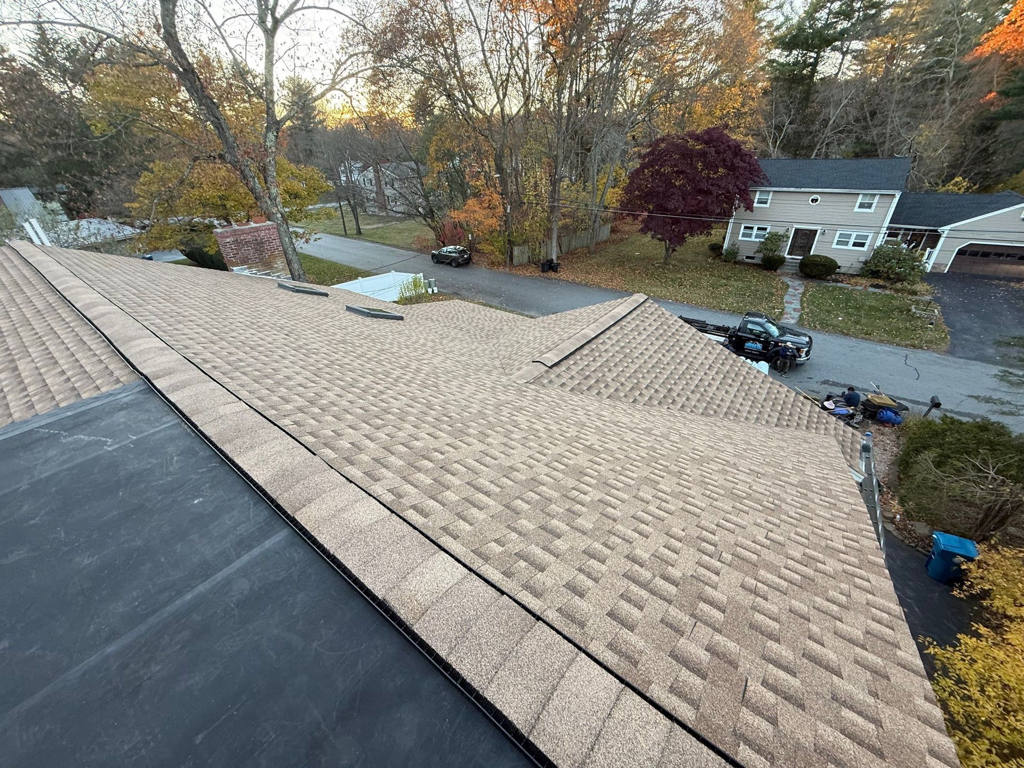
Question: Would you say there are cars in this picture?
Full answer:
Yes, there's a car here.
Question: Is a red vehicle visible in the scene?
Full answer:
No, no red vehicle is visible in the scene.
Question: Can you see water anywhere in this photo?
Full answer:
No, there is no water in the image.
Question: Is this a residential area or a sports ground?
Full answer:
This image shows a residential area.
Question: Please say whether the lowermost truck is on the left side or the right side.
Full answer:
You can find the lowermost truck on the right side of the picture.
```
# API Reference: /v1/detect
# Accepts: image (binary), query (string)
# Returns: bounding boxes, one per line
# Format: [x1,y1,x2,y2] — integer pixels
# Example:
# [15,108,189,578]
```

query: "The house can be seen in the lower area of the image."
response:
[0,210,960,768]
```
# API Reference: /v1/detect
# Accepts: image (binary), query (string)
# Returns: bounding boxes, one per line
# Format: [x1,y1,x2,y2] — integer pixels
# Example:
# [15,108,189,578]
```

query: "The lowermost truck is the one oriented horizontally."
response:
[677,309,813,367]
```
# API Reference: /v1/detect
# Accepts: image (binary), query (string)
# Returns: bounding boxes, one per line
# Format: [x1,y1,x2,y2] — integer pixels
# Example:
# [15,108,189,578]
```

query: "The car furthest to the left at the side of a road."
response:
[430,243,474,267]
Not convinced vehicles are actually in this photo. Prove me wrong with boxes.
[430,243,474,267]
[677,309,813,367]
